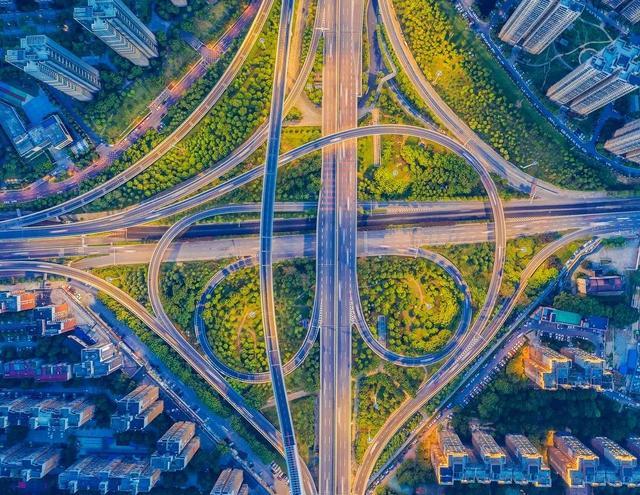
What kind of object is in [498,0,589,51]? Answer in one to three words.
building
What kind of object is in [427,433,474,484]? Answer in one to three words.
building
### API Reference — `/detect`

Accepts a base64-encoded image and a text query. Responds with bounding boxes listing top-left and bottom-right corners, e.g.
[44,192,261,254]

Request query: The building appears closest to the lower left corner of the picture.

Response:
[0,445,60,482]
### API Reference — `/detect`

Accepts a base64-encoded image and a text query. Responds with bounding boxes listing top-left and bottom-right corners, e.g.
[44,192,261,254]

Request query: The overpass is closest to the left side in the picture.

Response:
[259,0,302,495]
